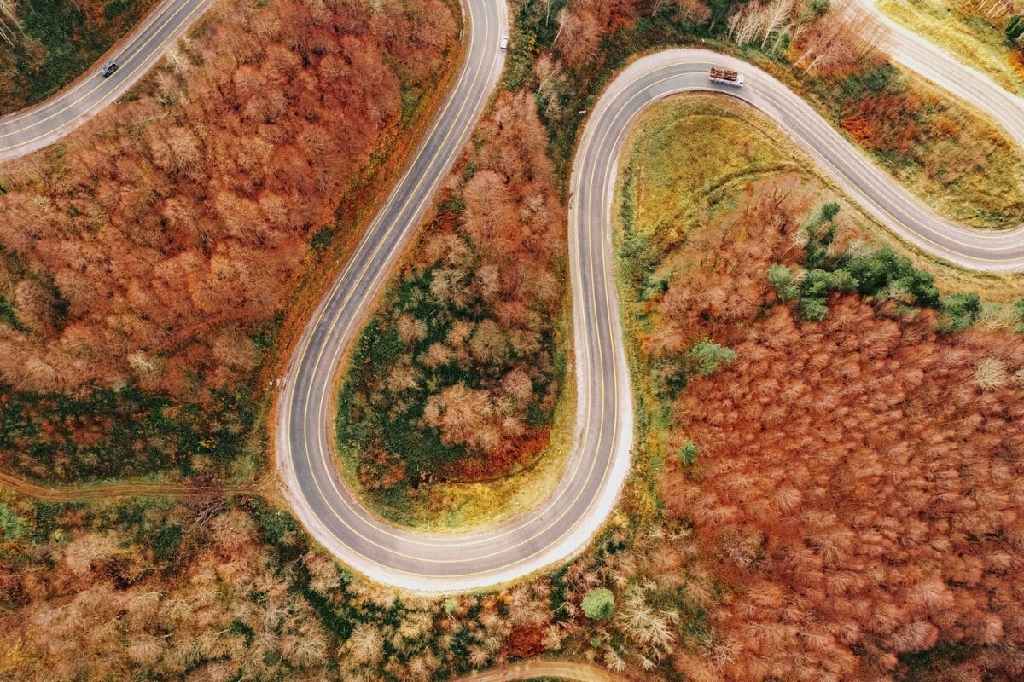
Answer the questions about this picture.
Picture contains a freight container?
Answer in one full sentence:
No, no freight container is visible in the scene.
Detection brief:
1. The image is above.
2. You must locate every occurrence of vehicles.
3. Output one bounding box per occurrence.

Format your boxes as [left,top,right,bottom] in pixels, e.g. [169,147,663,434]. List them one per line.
[101,60,118,76]
[709,69,744,87]
[500,36,508,50]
